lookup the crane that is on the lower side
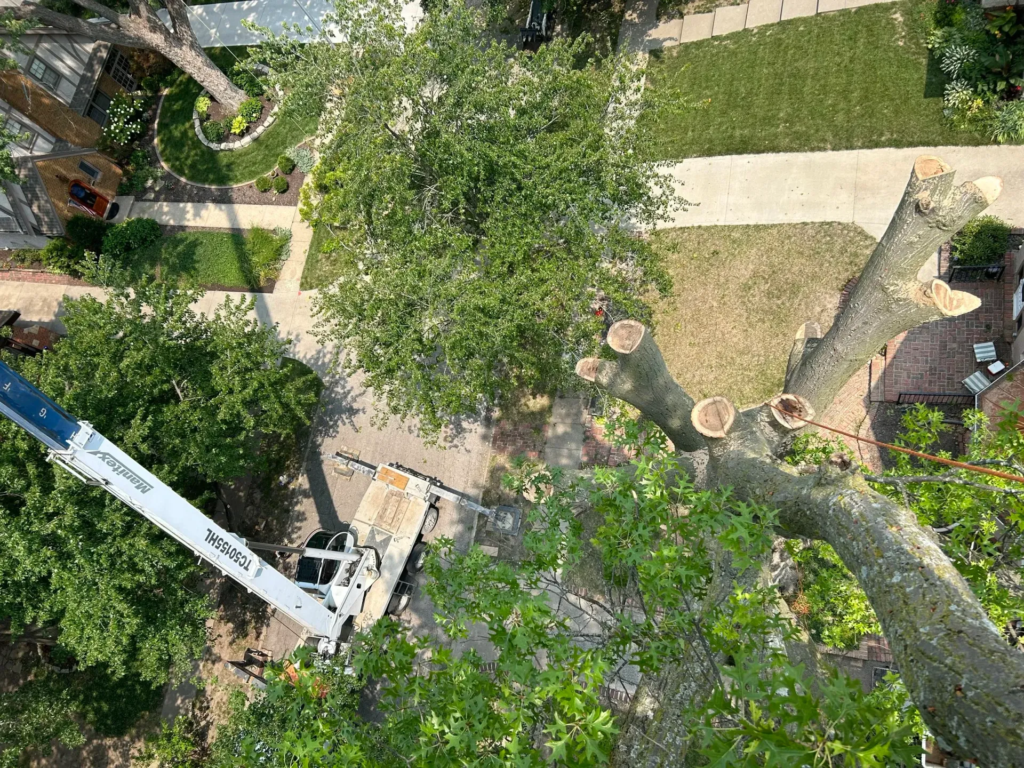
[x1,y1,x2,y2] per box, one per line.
[0,363,500,759]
